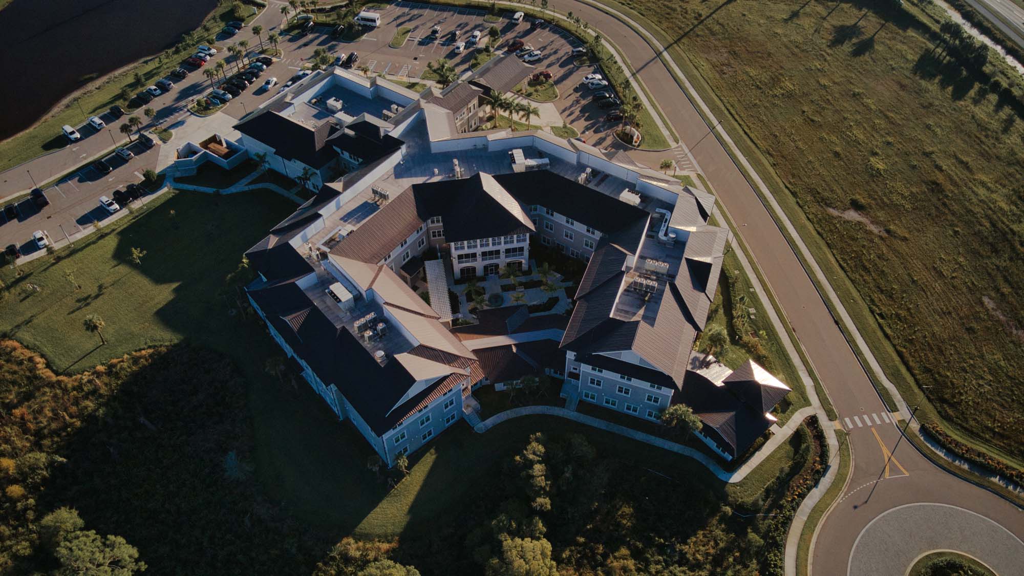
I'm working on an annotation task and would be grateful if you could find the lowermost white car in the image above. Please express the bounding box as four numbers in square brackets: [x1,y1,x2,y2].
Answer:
[32,230,49,249]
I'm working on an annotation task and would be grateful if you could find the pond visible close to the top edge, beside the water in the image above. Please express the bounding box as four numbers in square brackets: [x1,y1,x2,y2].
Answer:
[0,0,219,140]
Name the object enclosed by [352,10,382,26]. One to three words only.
vehicle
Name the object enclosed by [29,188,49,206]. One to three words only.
car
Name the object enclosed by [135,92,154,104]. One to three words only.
vehicle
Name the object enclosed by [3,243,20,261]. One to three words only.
car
